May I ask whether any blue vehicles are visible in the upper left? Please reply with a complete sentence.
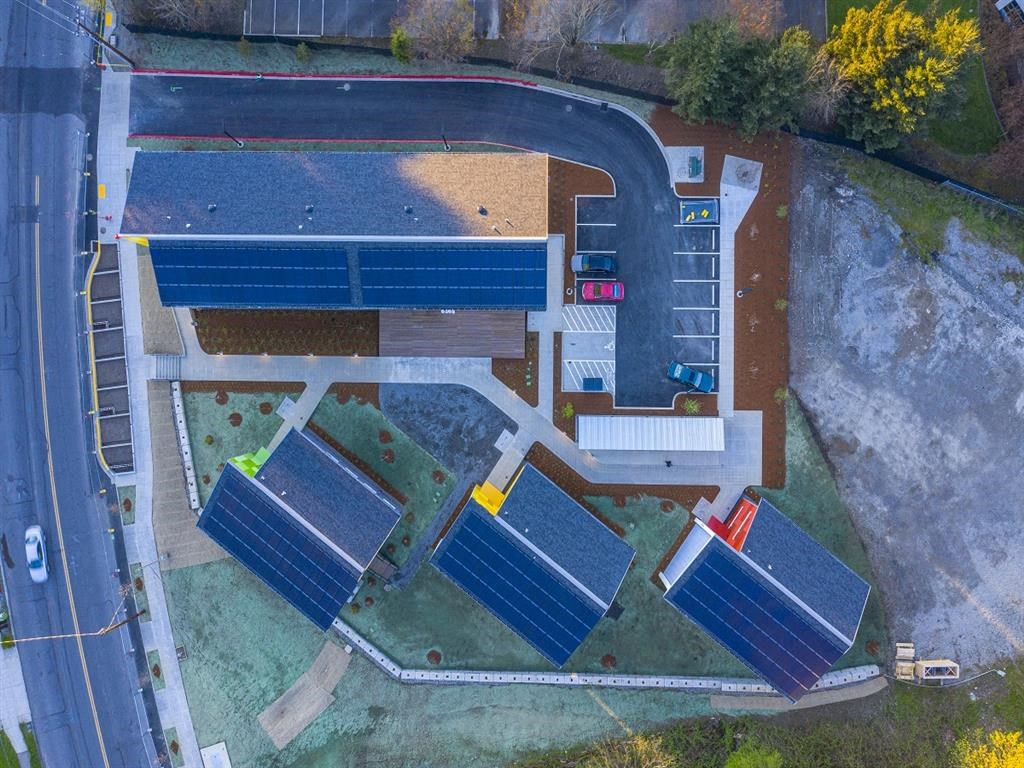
No, no blue vehicle is visible in the upper left.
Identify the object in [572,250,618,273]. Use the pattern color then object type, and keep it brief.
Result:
blue car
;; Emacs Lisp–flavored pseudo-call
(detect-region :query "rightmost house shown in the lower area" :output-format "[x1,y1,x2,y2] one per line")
[653,497,871,702]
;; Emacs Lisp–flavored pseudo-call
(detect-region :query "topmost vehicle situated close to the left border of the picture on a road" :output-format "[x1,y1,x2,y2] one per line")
[17,530,46,582]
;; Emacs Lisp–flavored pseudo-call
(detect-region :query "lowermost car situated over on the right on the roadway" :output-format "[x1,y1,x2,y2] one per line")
[669,360,718,394]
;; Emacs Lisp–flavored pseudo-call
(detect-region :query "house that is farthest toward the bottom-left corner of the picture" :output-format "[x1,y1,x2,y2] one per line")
[196,427,402,632]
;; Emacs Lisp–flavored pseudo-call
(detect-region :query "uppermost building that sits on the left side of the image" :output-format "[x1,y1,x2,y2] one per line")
[117,151,549,315]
